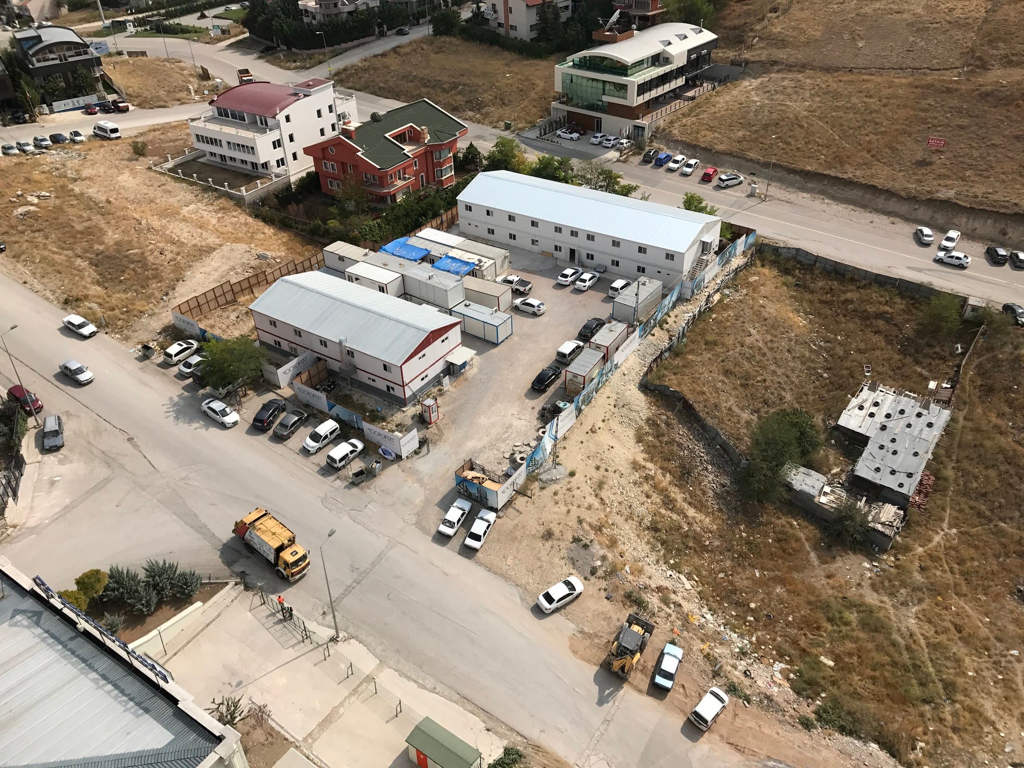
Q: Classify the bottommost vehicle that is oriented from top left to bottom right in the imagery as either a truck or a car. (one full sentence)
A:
The bottommost vehicle that is oriented from top left to bottom right can be classified as a truck.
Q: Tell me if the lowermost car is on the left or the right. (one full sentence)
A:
The lowermost car sits on the right side.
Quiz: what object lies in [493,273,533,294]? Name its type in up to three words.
truck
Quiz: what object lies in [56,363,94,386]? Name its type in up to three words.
car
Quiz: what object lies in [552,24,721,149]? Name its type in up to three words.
building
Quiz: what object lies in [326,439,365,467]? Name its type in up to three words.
van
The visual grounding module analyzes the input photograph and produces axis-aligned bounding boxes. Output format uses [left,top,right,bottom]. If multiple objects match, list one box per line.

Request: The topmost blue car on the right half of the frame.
[654,152,673,165]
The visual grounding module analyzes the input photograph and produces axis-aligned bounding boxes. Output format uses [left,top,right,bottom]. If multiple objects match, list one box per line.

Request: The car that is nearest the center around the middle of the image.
[530,363,566,392]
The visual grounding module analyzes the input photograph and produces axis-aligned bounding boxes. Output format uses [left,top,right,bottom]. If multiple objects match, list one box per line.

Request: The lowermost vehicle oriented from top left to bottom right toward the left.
[224,504,312,579]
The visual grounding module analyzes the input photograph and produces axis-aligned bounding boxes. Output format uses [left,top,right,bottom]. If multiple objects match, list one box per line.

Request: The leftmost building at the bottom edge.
[0,558,250,768]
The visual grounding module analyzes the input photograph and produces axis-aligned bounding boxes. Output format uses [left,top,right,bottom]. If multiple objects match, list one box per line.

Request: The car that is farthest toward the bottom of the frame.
[689,684,729,733]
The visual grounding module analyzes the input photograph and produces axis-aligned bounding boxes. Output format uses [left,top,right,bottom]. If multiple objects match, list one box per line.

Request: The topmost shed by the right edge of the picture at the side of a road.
[966,292,1003,325]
